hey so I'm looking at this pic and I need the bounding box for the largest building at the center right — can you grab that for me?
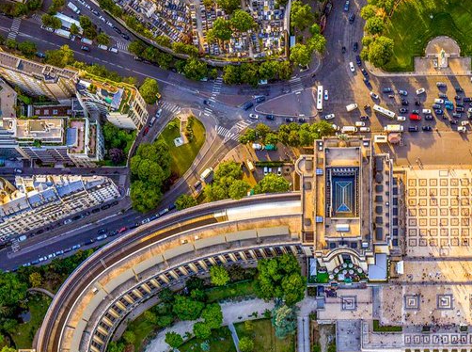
[296,136,398,276]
